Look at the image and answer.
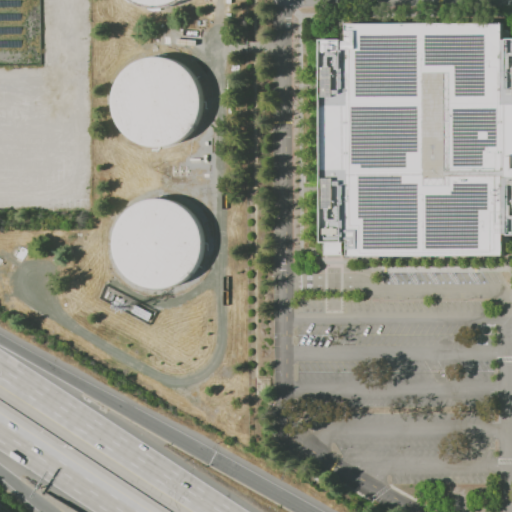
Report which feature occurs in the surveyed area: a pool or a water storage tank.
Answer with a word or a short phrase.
water storage tank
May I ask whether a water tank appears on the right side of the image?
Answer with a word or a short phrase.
No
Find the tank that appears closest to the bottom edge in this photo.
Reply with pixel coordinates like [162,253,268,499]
[111,198,213,290]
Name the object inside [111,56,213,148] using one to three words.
water tank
